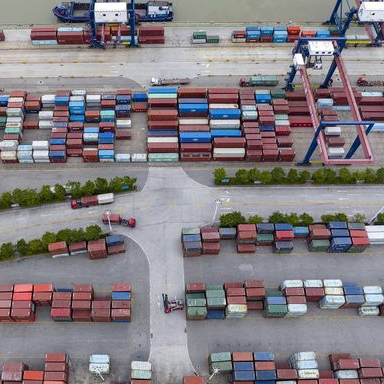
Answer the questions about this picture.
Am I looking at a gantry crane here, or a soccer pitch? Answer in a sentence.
Of the two, only a gantry crane appears.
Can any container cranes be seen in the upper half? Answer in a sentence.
Yes, a container crane appears in the upper half.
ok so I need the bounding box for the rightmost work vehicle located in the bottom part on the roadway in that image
[159,298,183,315]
